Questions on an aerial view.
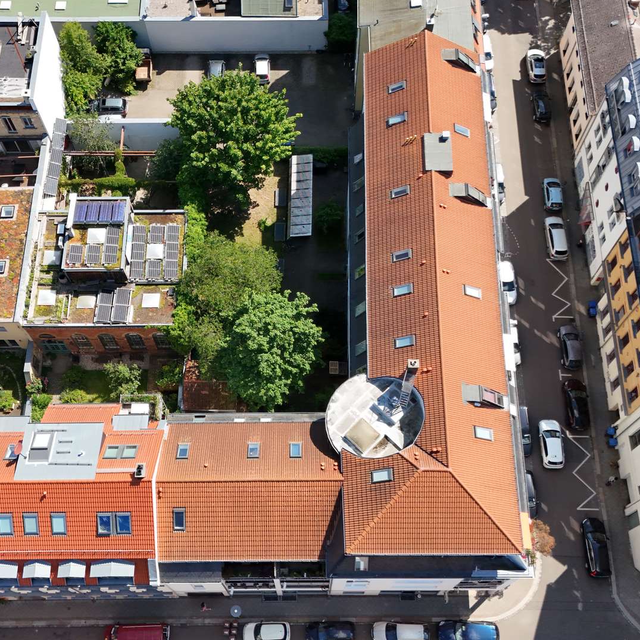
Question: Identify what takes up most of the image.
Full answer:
For the most part, this view shows buildings.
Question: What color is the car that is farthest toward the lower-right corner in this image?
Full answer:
The color of the car that is farthest toward the lower-right corner is black.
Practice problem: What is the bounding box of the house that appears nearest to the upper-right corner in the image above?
[551,0,640,149]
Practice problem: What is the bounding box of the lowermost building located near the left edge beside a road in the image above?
[0,392,172,598]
